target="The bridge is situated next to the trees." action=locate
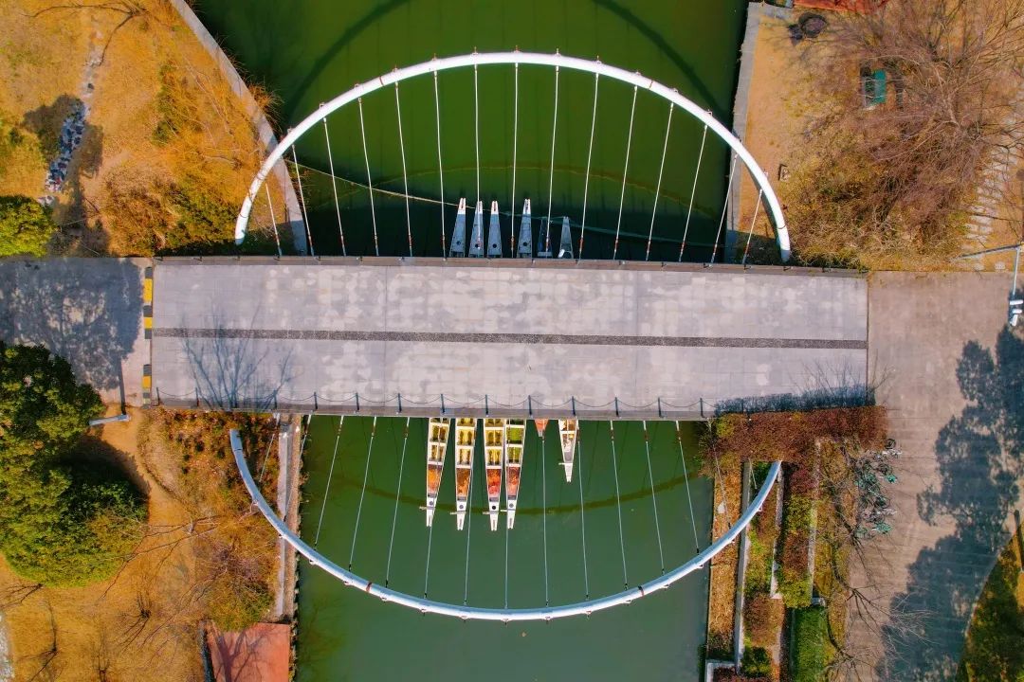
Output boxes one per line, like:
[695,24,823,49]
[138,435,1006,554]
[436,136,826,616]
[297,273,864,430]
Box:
[146,39,873,631]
